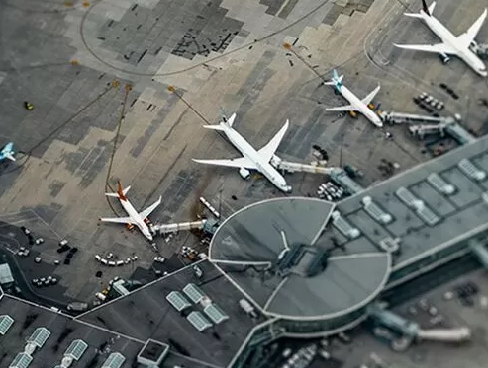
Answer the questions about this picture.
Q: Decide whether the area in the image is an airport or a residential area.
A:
airport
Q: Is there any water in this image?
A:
No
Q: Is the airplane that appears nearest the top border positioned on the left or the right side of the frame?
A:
right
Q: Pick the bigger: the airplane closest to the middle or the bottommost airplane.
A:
the airplane closest to the middle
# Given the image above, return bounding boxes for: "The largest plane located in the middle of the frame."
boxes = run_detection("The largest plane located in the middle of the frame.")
[196,112,292,192]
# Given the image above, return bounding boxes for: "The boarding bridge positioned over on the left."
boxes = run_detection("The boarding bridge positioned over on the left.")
[148,219,216,242]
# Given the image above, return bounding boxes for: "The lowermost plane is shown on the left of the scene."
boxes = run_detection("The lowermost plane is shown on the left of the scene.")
[99,192,161,242]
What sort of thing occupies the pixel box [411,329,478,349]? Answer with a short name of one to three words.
jet bridge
